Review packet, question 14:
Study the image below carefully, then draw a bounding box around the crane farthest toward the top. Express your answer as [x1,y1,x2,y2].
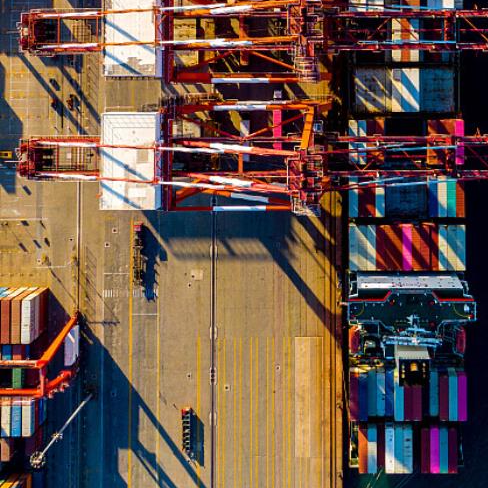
[5,0,488,92]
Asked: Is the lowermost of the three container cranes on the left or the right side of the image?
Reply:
left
